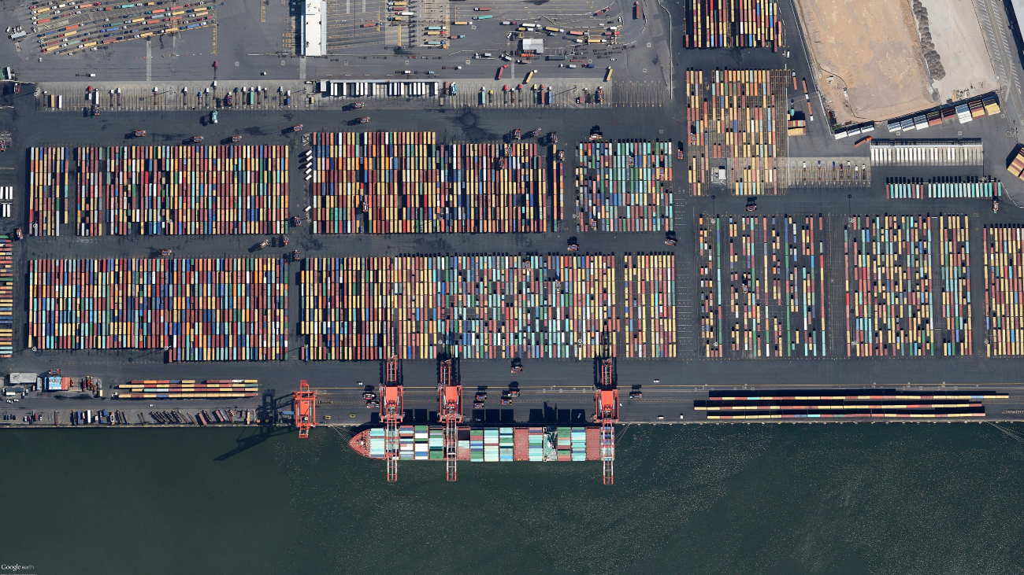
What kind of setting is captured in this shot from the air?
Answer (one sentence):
This looks like a port.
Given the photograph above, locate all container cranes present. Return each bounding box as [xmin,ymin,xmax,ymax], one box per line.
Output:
[438,356,464,483]
[594,356,620,483]
[379,356,405,483]
[292,381,318,440]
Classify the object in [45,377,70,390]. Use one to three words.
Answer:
building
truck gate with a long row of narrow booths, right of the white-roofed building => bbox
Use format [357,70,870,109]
[407,0,432,46]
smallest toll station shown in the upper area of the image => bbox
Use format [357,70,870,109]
[578,29,623,44]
